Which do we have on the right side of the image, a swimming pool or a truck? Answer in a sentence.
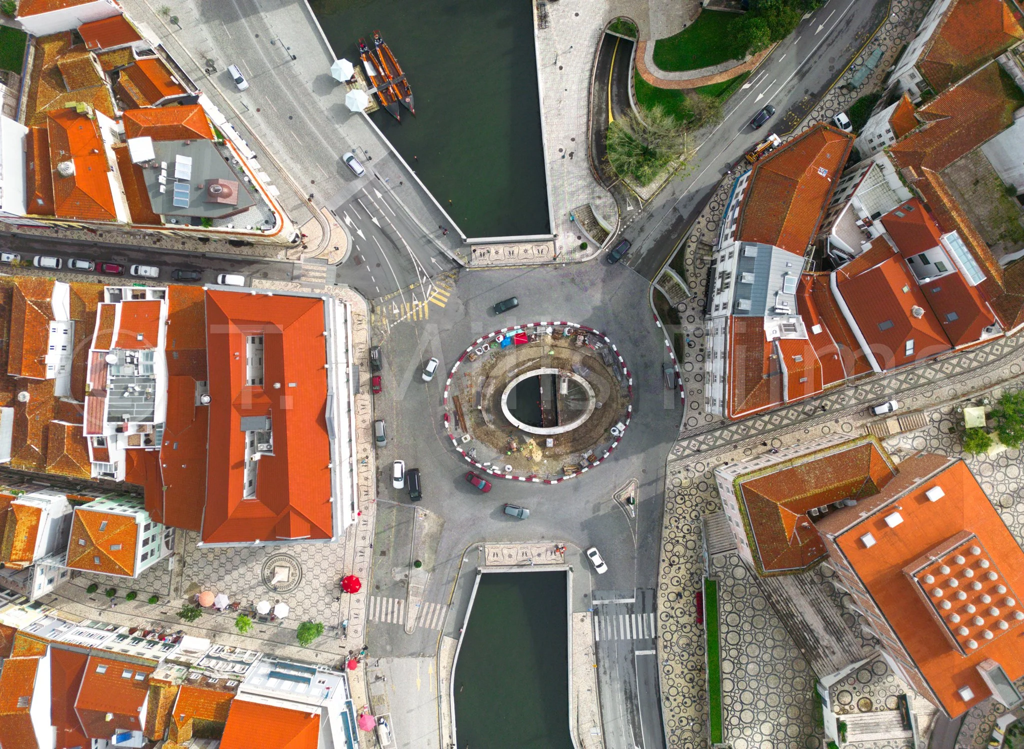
The one visible on the right side of the image is a truck.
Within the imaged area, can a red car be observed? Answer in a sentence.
Yes, a red car is visible in the scene.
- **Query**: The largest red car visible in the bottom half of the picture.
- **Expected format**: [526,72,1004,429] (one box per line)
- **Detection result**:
[464,471,492,493]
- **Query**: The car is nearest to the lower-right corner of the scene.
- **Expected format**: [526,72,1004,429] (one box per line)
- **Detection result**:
[869,400,897,417]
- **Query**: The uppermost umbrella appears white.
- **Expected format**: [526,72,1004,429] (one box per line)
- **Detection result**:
[332,60,355,83]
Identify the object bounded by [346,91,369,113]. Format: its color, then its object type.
white umbrella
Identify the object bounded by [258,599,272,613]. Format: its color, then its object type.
white umbrella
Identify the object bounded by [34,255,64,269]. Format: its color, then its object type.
white car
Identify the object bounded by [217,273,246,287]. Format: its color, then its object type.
white car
